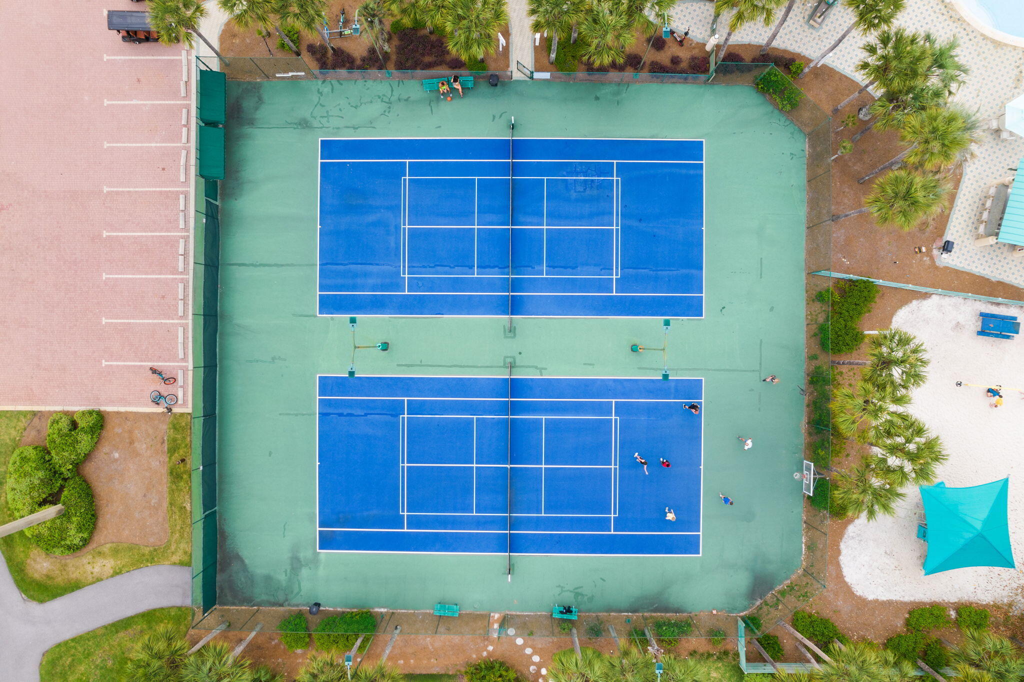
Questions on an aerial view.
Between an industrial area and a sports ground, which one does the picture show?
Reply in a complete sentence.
The area seen from above is a sports ground.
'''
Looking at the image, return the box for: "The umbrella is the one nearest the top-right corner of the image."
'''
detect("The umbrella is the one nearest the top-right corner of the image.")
[999,91,1024,145]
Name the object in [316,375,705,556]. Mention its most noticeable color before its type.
blue tennis court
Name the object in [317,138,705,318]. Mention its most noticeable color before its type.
blue tennis court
